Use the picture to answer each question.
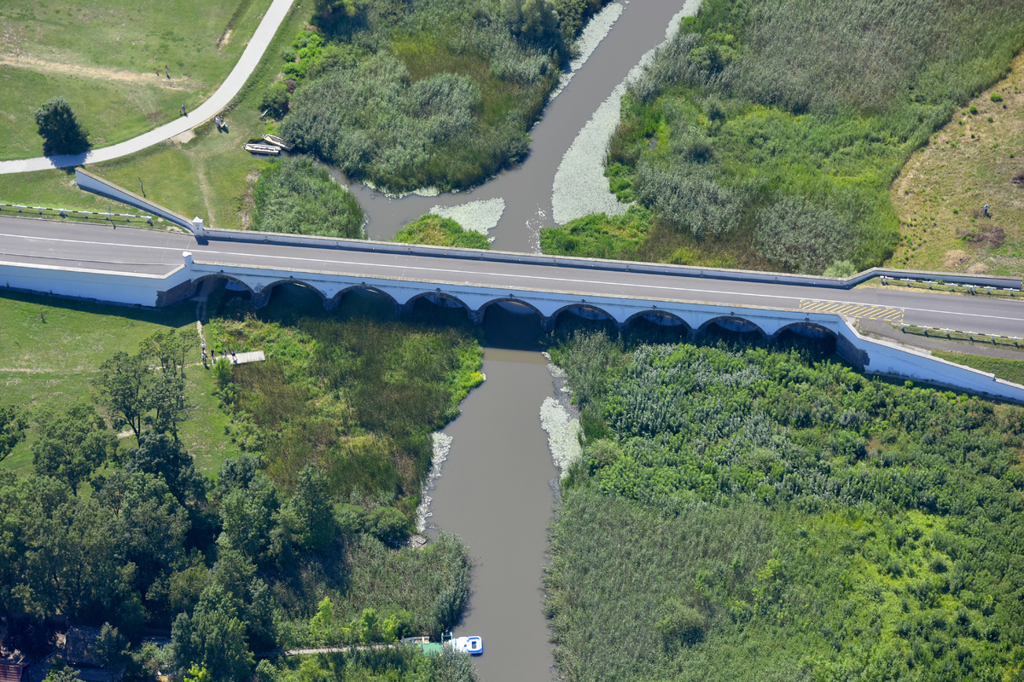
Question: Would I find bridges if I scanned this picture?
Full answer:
Yes, this view includes a bridge.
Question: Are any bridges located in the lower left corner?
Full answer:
No, no bridge can be made out in the lower left corner.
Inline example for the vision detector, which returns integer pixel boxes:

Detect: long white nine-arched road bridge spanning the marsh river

[187,227,846,353]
